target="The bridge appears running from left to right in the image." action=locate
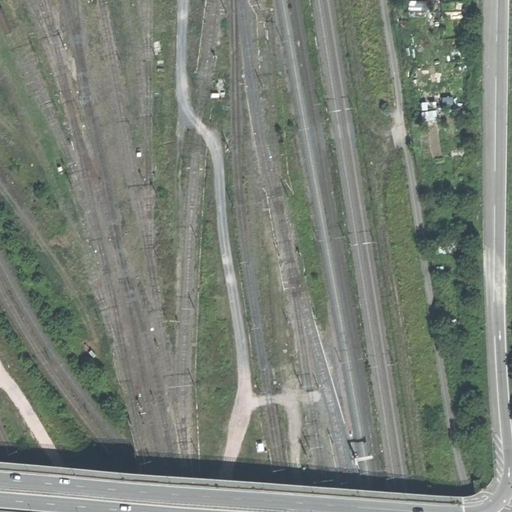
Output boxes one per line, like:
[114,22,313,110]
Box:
[0,462,474,512]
